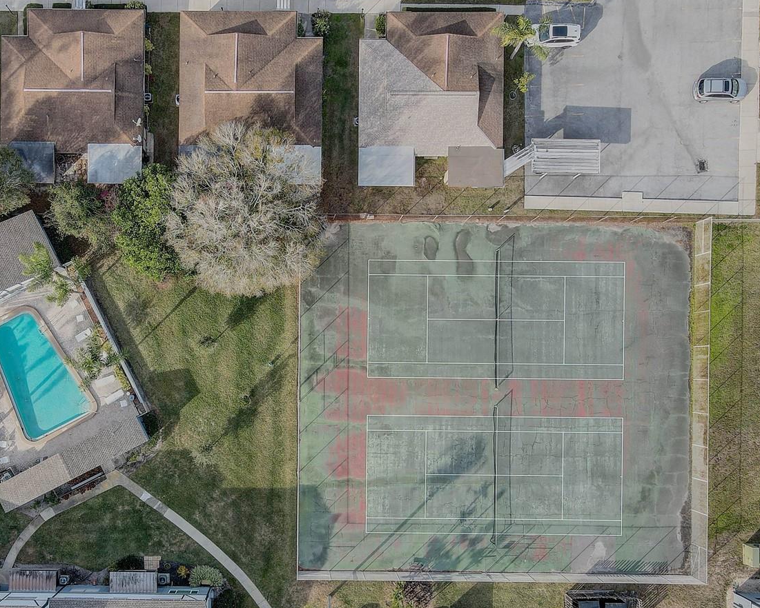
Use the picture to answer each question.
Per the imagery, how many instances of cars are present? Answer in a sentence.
In total, 2 cars can be seen.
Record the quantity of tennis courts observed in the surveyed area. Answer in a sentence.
There are 2 tennis courts in the image.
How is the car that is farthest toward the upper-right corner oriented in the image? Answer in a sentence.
The car that is farthest toward the upper-right corner runs from left to right in the image.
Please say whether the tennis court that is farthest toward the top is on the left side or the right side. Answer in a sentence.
The tennis court that is farthest toward the top sits on the right side.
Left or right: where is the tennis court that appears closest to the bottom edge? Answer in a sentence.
You can find the tennis court that appears closest to the bottom edge on the right side of the picture.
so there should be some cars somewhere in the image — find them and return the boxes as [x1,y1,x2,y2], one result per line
[692,77,744,102]
[529,22,583,49]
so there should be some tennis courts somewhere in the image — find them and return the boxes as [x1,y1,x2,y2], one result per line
[299,397,691,574]
[299,223,691,397]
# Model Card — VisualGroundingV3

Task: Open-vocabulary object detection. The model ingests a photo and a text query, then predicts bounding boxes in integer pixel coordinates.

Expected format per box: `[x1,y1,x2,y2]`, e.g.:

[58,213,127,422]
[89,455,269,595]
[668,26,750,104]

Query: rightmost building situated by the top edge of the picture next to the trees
[358,11,505,156]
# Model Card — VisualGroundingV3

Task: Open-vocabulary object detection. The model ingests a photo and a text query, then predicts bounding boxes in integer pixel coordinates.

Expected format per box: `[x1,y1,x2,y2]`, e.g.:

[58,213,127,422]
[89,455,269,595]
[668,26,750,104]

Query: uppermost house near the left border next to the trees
[0,8,147,153]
